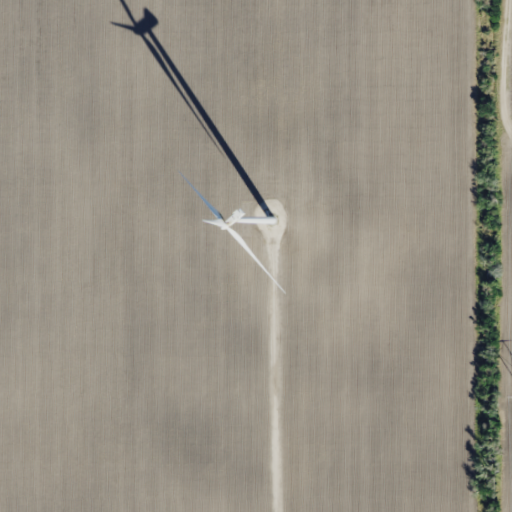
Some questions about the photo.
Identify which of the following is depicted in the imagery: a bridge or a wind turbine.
wind turbine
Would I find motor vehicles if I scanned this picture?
No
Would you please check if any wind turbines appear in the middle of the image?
Yes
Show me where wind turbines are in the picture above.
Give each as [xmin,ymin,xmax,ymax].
[176,170,285,291]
